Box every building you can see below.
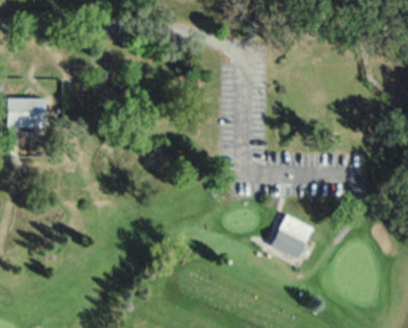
[270,214,316,260]
[7,98,46,128]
